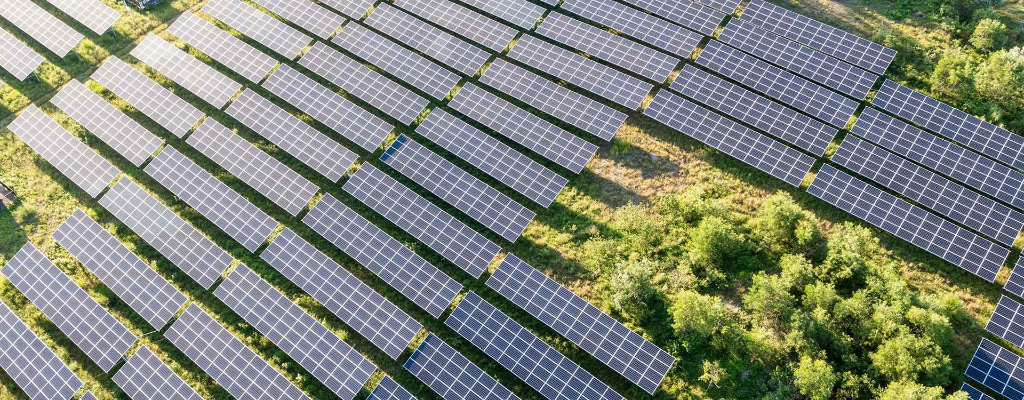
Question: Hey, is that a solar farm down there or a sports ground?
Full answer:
It's a solar farm.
